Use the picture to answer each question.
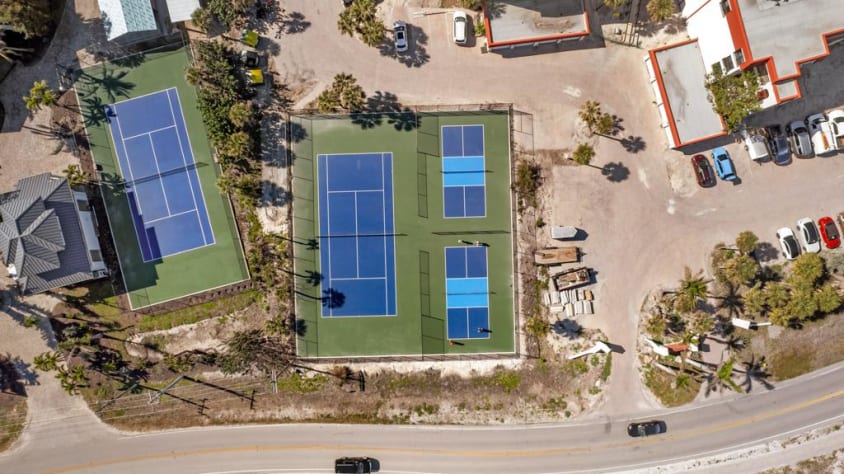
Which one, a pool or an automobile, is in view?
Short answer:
automobile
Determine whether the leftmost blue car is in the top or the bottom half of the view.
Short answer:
top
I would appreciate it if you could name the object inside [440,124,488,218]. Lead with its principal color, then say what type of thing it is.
blue sports court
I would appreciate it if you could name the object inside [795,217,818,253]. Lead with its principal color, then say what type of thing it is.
white car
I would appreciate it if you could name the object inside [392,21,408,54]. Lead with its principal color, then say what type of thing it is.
gray car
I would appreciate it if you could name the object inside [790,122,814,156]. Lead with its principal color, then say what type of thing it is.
gray car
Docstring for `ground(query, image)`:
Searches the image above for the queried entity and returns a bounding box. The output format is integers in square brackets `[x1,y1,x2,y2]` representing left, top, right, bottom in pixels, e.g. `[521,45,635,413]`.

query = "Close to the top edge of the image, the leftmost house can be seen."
[98,0,168,48]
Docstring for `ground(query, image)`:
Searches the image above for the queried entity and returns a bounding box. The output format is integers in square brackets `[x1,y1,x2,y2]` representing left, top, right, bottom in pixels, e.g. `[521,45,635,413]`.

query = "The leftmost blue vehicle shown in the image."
[713,148,734,181]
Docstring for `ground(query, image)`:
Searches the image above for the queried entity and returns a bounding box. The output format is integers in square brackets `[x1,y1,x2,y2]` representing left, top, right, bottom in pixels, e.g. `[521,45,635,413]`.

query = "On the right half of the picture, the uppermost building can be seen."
[481,0,590,54]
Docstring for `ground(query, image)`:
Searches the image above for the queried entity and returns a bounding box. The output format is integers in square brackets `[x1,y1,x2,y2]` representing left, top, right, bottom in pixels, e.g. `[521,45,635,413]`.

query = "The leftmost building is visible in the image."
[0,176,111,297]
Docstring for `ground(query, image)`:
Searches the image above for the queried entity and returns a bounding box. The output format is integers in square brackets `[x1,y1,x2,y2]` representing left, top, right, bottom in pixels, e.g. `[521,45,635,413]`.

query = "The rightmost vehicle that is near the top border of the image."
[452,12,468,45]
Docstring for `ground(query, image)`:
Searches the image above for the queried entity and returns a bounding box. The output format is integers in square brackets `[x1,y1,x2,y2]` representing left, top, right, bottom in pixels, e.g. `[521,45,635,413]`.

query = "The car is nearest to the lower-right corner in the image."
[627,420,665,438]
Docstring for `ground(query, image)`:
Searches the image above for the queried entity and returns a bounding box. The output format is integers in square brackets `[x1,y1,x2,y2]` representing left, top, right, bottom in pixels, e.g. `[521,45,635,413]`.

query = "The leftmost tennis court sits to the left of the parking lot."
[69,45,250,310]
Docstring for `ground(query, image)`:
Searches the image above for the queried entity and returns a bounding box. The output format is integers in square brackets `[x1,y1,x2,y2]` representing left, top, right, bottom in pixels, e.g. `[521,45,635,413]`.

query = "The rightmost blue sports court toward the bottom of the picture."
[444,246,491,339]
